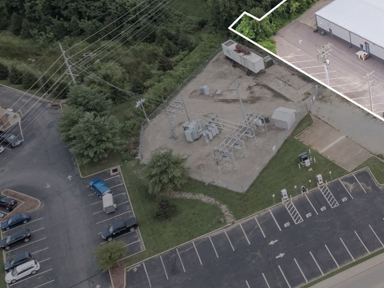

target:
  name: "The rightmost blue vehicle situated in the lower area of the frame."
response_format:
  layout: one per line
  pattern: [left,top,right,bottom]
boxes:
[89,178,112,197]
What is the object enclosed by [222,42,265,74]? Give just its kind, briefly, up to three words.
trailer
